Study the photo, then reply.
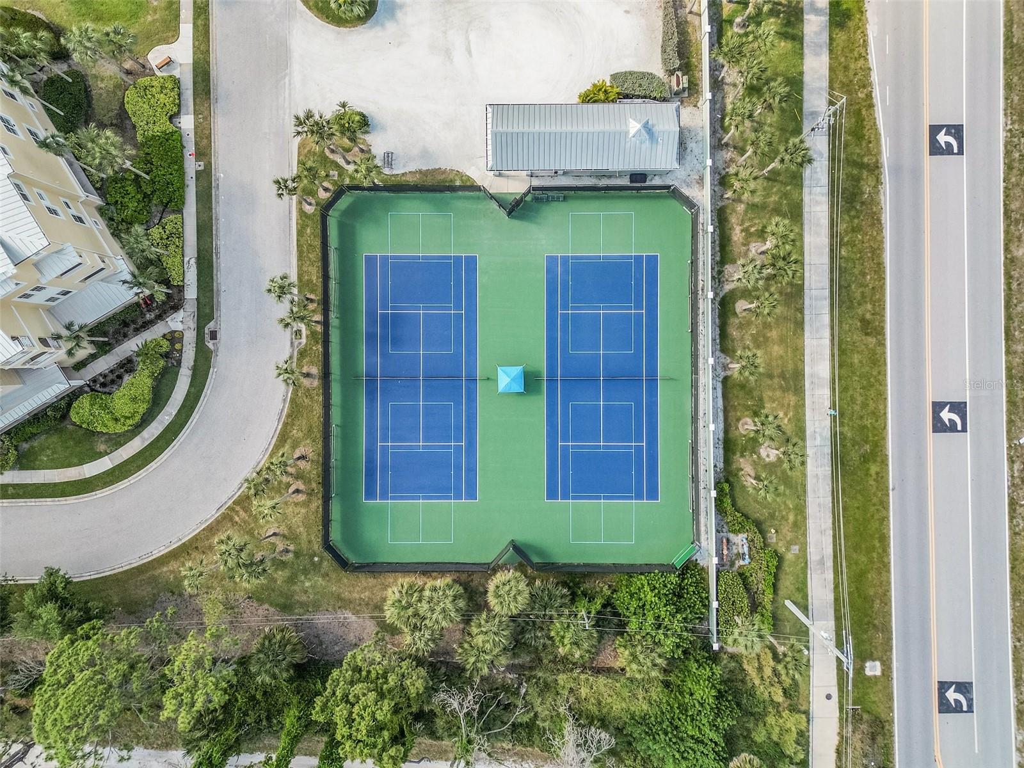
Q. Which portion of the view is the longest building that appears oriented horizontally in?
top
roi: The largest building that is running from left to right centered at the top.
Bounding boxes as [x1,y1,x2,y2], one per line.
[485,103,681,178]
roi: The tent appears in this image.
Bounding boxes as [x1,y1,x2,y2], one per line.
[494,362,528,396]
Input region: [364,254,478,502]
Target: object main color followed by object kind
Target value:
blue tennis court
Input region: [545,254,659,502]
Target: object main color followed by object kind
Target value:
blue tennis court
